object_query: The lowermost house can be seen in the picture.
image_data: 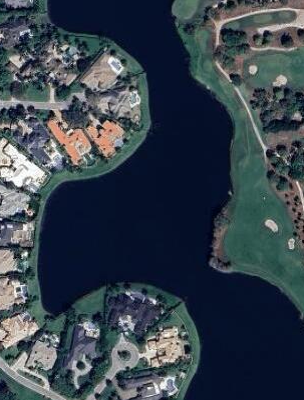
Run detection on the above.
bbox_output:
[116,372,166,400]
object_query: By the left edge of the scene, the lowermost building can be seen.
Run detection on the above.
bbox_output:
[14,331,65,373]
